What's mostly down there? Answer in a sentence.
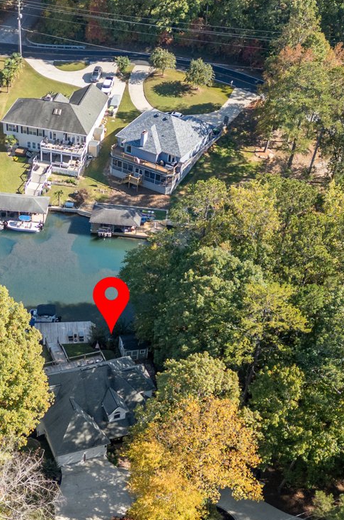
What you mostly see from above here is trees.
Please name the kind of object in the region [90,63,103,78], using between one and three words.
vehicle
